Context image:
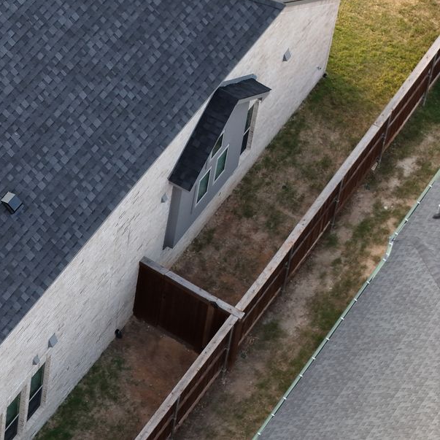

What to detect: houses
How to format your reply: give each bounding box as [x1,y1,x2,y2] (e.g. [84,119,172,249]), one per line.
[250,168,440,440]
[0,0,340,440]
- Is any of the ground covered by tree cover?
No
